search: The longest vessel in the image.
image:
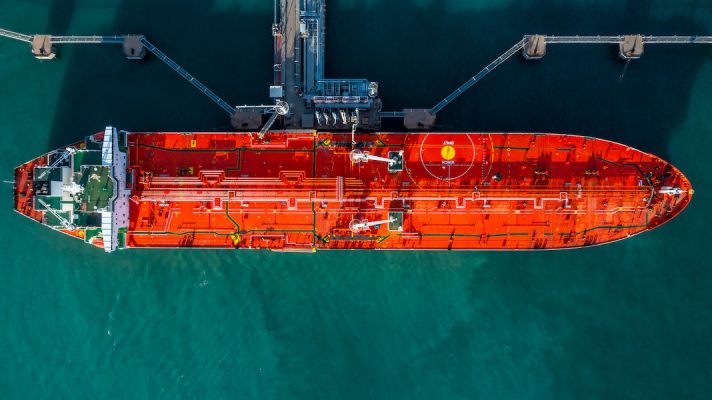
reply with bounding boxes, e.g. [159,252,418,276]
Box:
[1,127,696,252]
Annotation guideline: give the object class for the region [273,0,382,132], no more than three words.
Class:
pier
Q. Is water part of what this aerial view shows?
Yes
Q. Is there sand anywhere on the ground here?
No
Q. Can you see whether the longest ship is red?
Yes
